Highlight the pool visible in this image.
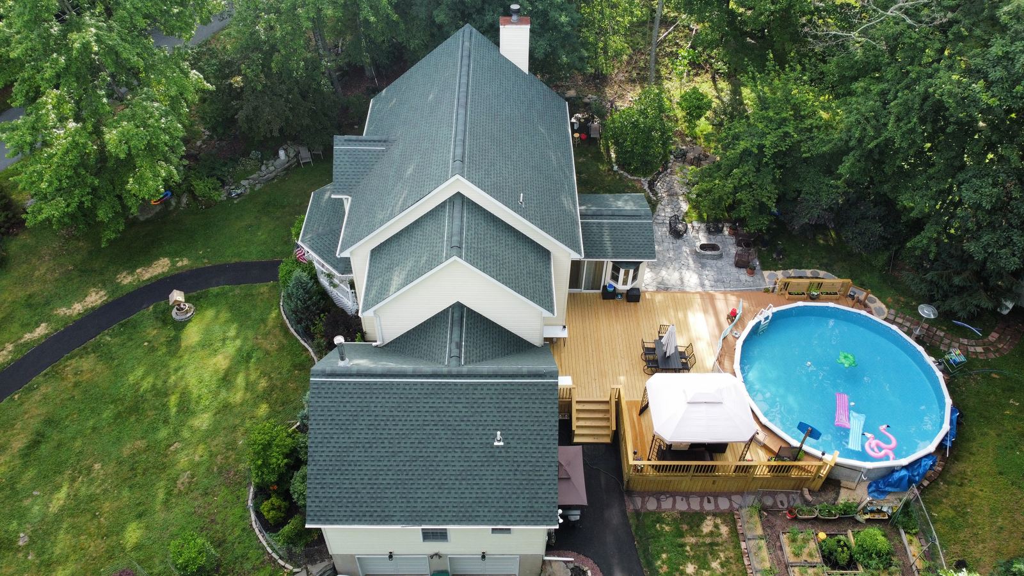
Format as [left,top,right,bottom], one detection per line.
[736,302,951,484]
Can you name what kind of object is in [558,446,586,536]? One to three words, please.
tent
